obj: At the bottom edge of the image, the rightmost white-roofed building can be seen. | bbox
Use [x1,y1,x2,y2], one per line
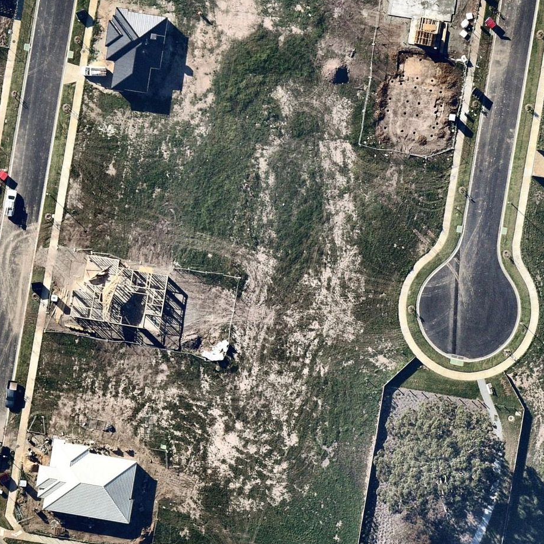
[36,437,137,524]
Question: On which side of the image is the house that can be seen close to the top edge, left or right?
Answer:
left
